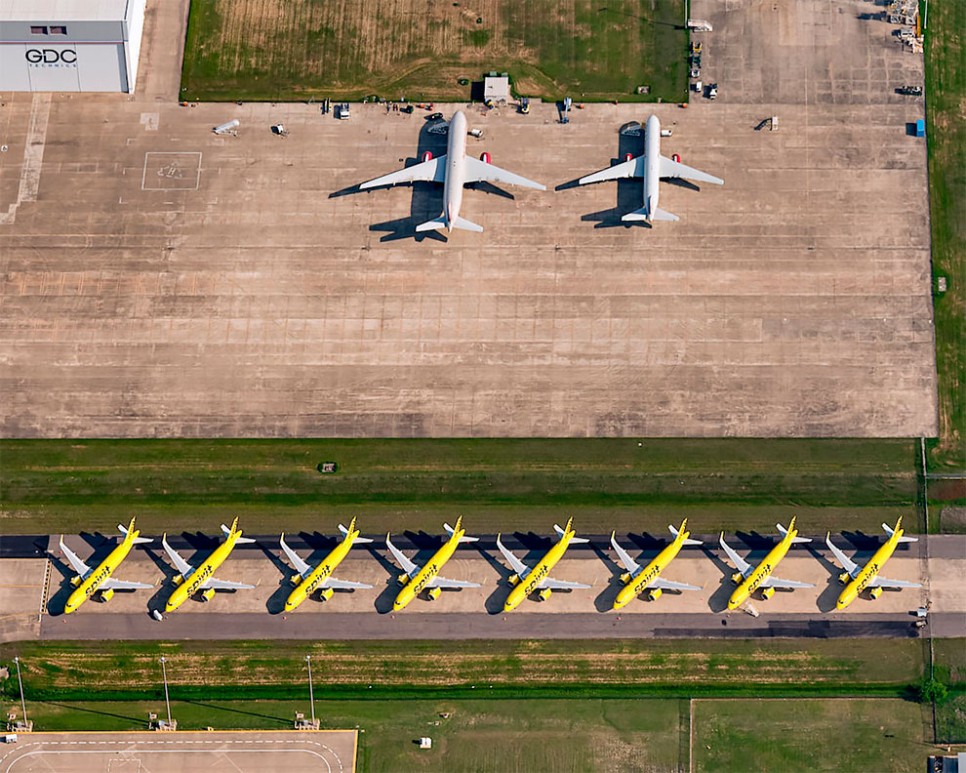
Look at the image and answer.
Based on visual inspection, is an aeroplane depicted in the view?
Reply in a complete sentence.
Yes, there's an aeroplane down there.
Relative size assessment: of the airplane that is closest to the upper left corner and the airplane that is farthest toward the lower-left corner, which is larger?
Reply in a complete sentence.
The airplane that is closest to the upper left corner is larger than the airplane that is farthest toward the lower-left corner.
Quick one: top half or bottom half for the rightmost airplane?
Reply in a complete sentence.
You can find the rightmost airplane in the bottom half.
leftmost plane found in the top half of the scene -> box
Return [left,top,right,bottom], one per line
[360,108,545,232]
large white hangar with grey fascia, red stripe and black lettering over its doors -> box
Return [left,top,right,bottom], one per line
[0,0,143,92]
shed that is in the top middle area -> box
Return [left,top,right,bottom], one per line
[484,78,513,107]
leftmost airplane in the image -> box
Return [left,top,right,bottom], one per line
[61,519,158,613]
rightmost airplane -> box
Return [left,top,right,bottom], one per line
[824,517,926,610]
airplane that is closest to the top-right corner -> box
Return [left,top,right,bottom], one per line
[579,113,724,220]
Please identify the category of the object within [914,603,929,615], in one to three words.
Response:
vehicle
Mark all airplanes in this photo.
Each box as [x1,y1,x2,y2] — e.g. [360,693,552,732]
[579,113,724,220]
[824,517,926,610]
[386,518,484,612]
[161,519,257,613]
[495,518,595,612]
[717,518,818,610]
[61,519,158,613]
[279,518,376,612]
[607,518,705,610]
[360,108,545,232]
